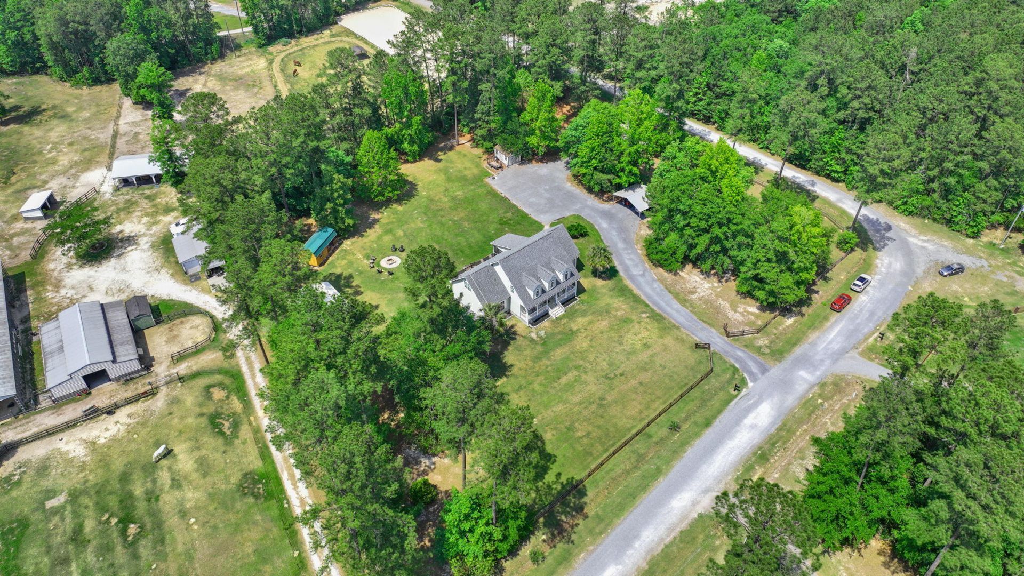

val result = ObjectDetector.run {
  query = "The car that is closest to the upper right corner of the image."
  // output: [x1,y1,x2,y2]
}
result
[938,262,969,277]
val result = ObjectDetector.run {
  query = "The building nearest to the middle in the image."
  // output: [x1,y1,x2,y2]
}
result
[450,225,582,328]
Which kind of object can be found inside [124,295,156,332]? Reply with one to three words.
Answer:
shed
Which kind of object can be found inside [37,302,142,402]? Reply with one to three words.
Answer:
barn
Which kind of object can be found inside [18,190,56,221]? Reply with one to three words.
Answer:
shed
